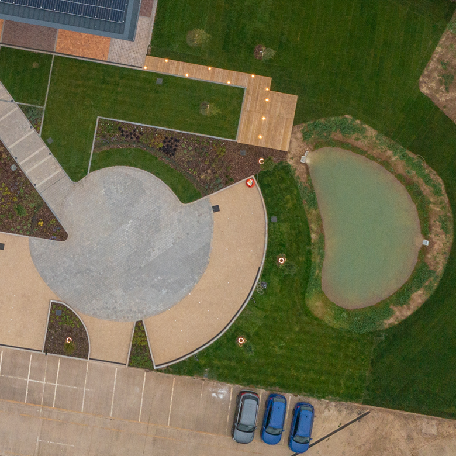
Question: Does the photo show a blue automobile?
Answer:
Yes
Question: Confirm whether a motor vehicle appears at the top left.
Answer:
No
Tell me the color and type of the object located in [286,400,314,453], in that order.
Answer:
blue car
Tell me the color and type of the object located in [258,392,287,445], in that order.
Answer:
blue car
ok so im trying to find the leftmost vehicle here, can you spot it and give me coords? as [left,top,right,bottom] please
[231,389,261,443]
